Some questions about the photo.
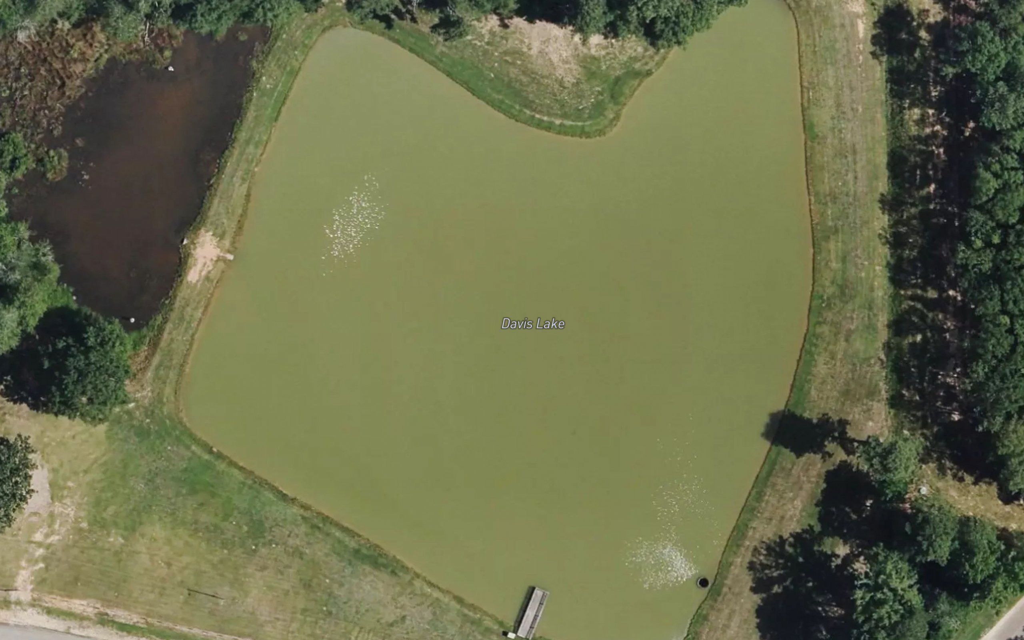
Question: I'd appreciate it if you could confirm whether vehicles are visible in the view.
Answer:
No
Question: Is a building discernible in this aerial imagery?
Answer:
No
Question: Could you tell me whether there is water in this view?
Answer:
Yes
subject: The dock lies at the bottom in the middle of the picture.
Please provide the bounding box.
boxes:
[517,587,549,640]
